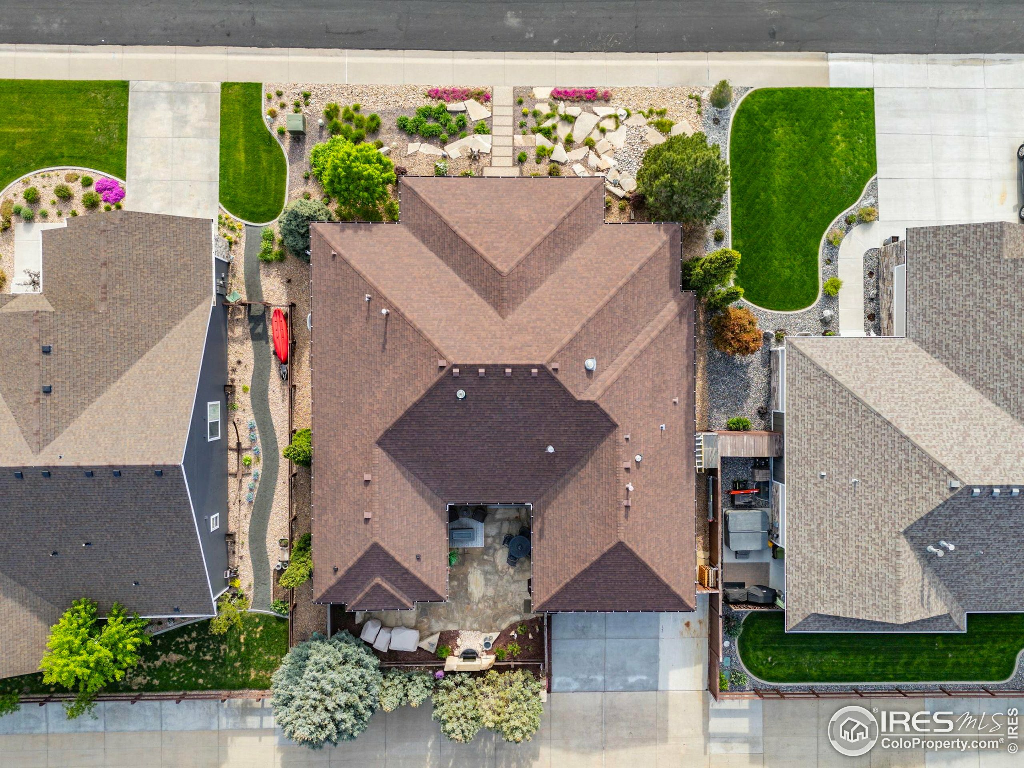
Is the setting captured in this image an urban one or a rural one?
urban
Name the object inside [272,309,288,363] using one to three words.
boat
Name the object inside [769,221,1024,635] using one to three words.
house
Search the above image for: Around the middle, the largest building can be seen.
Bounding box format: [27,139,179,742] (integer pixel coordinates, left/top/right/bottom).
[305,173,699,615]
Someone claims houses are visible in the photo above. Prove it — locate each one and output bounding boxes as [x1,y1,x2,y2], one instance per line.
[769,221,1024,635]
[0,211,241,675]
[305,173,699,615]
